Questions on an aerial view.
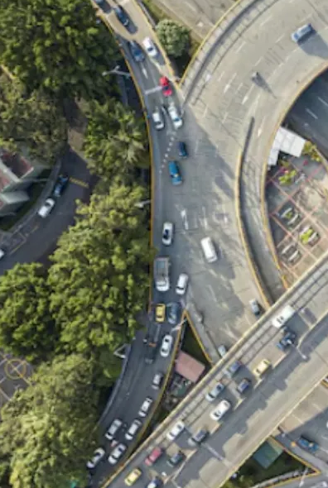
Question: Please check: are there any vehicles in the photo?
Yes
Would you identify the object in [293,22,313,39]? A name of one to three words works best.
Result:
car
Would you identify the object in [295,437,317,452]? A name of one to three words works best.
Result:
car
